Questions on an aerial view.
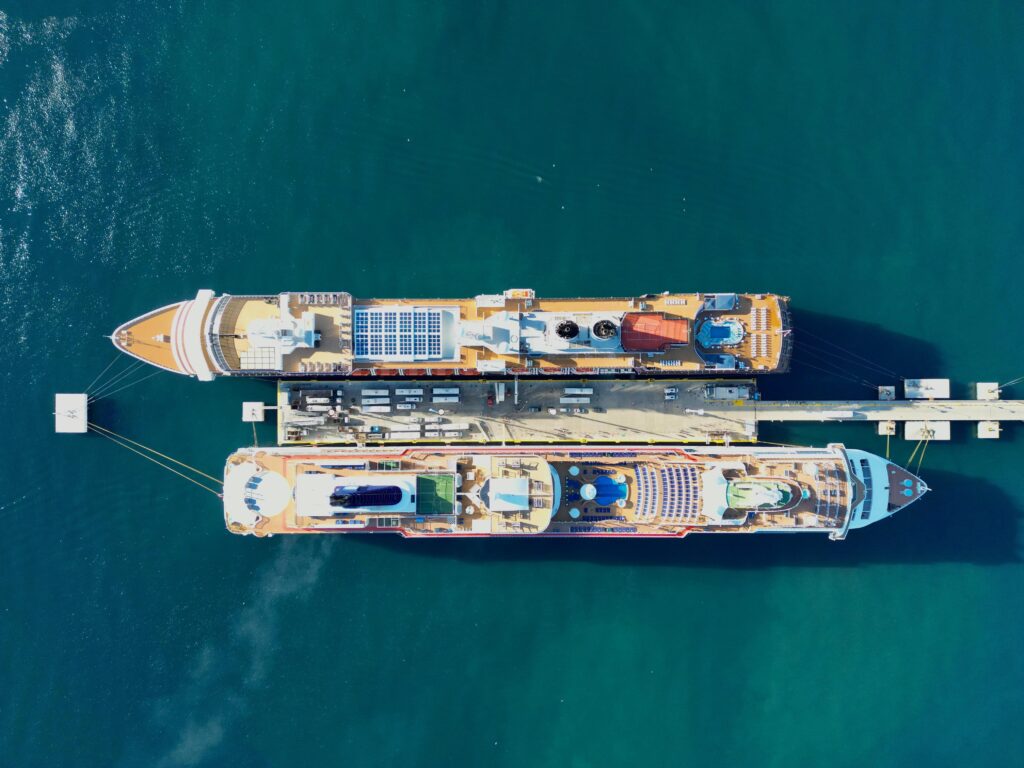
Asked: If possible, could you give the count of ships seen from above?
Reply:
2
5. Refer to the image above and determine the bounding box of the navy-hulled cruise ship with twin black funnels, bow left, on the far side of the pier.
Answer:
[103,290,794,382]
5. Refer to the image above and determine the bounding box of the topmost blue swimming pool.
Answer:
[697,319,745,348]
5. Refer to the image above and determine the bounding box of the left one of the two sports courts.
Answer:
[416,473,455,515]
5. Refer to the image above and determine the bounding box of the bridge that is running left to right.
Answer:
[757,400,1024,423]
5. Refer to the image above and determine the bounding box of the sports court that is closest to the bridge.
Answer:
[622,312,689,352]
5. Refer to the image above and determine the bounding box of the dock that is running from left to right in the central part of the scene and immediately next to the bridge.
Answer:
[277,378,759,445]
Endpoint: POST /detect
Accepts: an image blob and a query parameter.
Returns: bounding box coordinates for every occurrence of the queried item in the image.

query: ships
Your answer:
[219,442,933,540]
[103,290,794,382]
